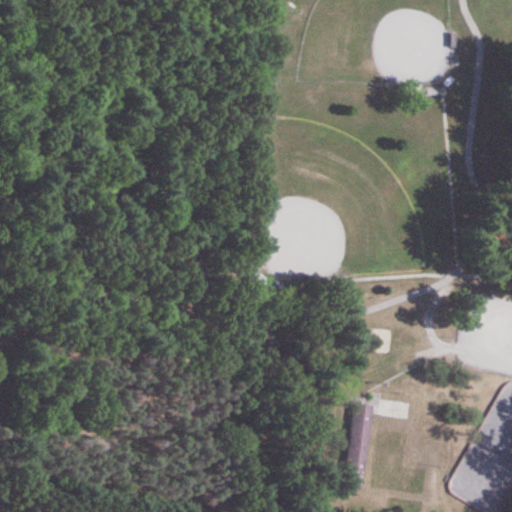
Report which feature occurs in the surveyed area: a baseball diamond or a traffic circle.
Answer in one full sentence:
It is a baseball diamond that can be seen here.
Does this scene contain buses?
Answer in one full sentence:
No, the picture doesn't show any bus.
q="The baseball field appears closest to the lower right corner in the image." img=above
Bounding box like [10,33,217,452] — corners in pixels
[456,288,512,372]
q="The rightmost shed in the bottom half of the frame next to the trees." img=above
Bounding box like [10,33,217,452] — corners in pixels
[348,404,374,479]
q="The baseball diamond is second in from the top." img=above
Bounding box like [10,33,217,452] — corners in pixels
[262,117,424,280]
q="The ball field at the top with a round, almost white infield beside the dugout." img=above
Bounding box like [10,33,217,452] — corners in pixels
[297,0,452,86]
